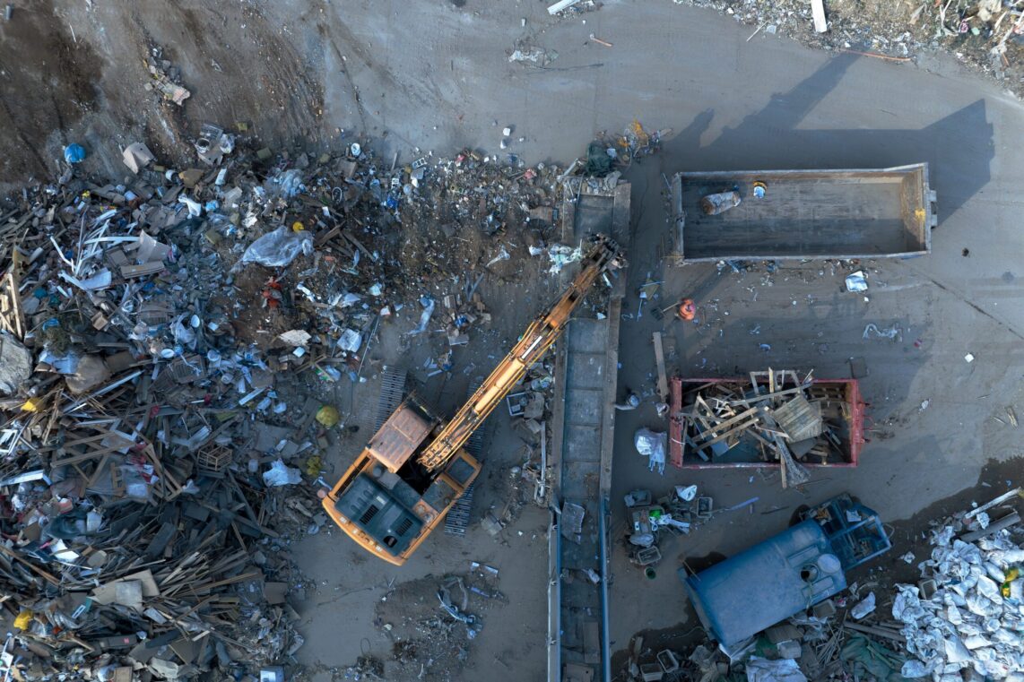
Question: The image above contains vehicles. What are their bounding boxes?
[673,487,897,647]
[322,227,630,567]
